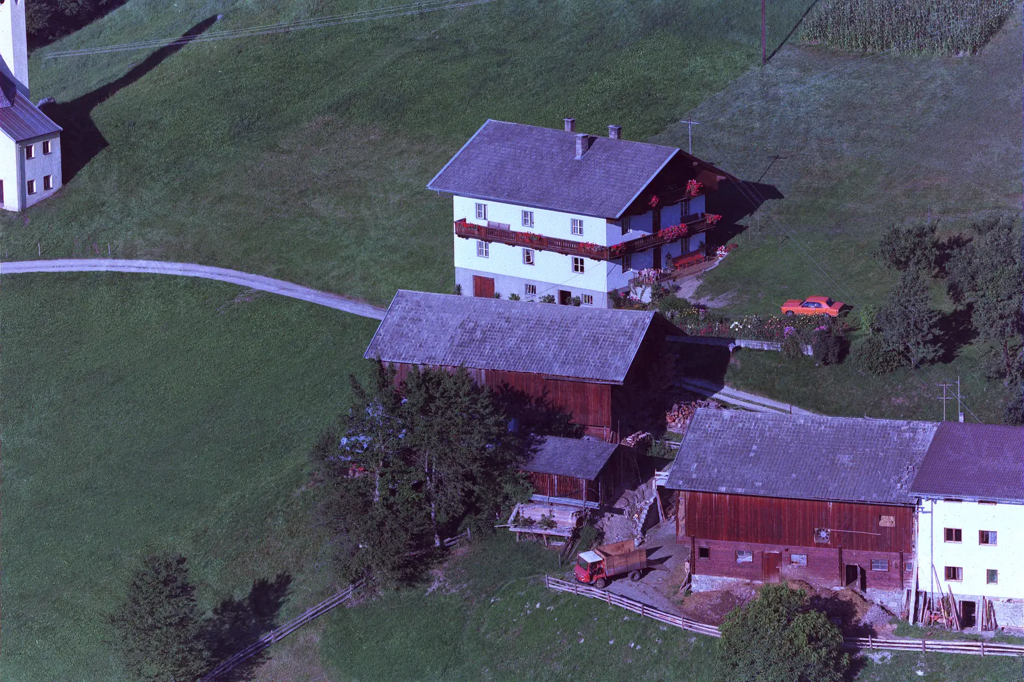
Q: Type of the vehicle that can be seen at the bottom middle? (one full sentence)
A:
The vehicle that can be seen at the bottom middle can be classified as a truck.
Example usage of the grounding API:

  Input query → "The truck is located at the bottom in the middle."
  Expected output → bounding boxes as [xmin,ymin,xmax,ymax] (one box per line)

[574,539,658,588]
